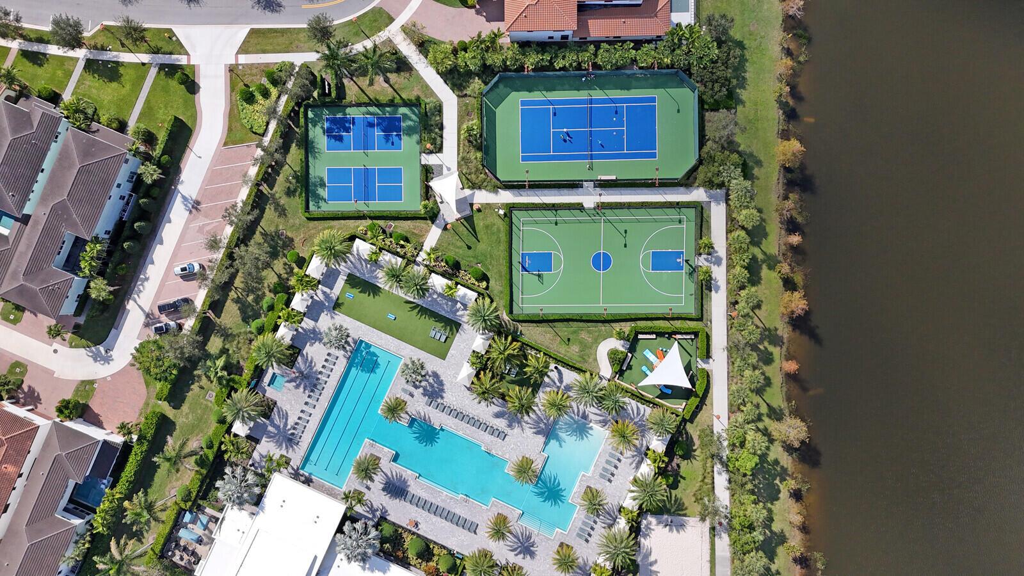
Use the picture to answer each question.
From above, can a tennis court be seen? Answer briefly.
Yes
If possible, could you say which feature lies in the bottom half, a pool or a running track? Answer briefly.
pool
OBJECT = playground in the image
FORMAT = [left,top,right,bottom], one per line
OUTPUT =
[615,331,698,410]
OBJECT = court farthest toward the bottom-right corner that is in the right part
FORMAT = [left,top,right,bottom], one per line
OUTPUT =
[639,513,712,576]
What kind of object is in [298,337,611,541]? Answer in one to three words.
swimming pool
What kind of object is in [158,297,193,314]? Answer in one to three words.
vehicle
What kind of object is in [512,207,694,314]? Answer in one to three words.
basketball court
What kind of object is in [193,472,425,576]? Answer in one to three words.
building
